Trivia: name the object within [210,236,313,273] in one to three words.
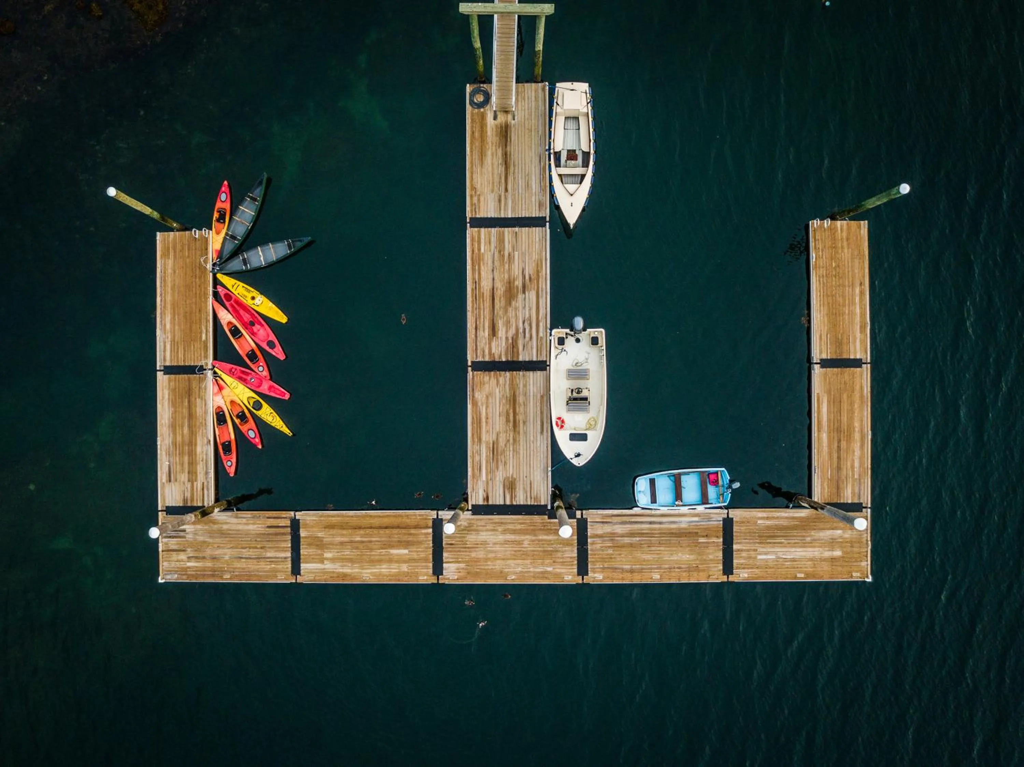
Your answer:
boat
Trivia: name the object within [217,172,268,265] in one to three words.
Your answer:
boat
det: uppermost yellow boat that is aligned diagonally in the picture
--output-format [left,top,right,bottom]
[215,273,287,323]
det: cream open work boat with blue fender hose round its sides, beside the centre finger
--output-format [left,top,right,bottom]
[549,82,595,232]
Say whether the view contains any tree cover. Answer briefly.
No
